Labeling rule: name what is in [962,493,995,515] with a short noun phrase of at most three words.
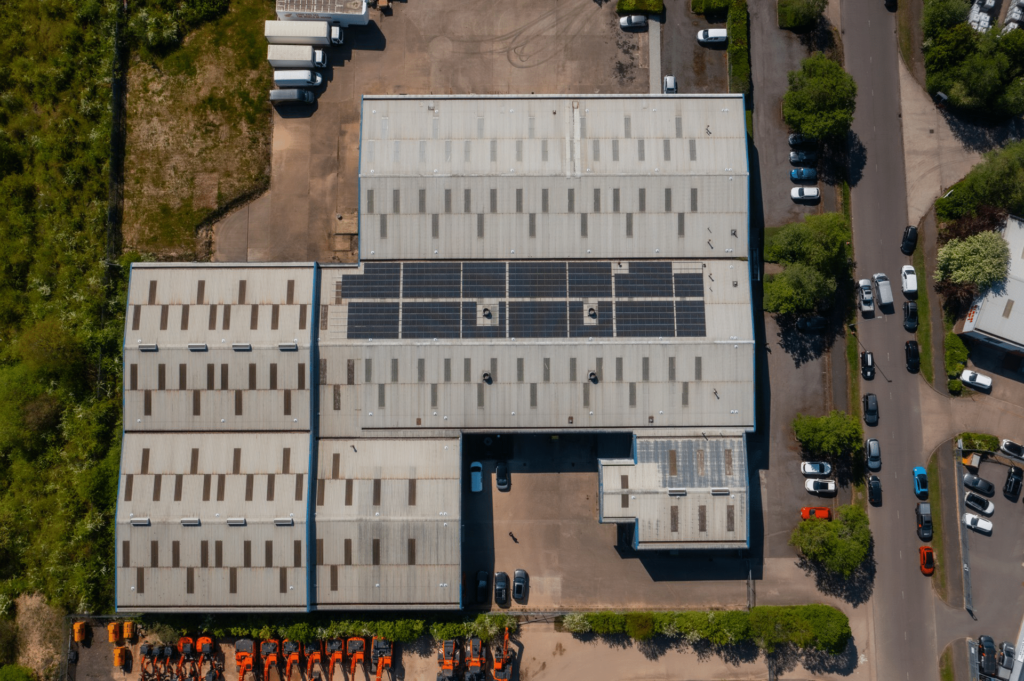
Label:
car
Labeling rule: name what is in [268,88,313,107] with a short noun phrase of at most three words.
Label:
vehicle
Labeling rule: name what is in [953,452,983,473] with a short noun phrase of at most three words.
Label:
shed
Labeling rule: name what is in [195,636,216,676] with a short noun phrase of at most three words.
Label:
work vehicle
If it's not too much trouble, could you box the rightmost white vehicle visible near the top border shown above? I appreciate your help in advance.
[697,27,729,44]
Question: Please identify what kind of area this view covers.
industrial area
